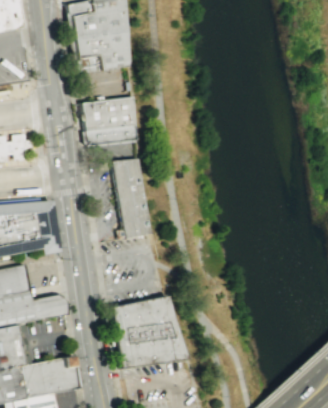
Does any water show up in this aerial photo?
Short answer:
Yes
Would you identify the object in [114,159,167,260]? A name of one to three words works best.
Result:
building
